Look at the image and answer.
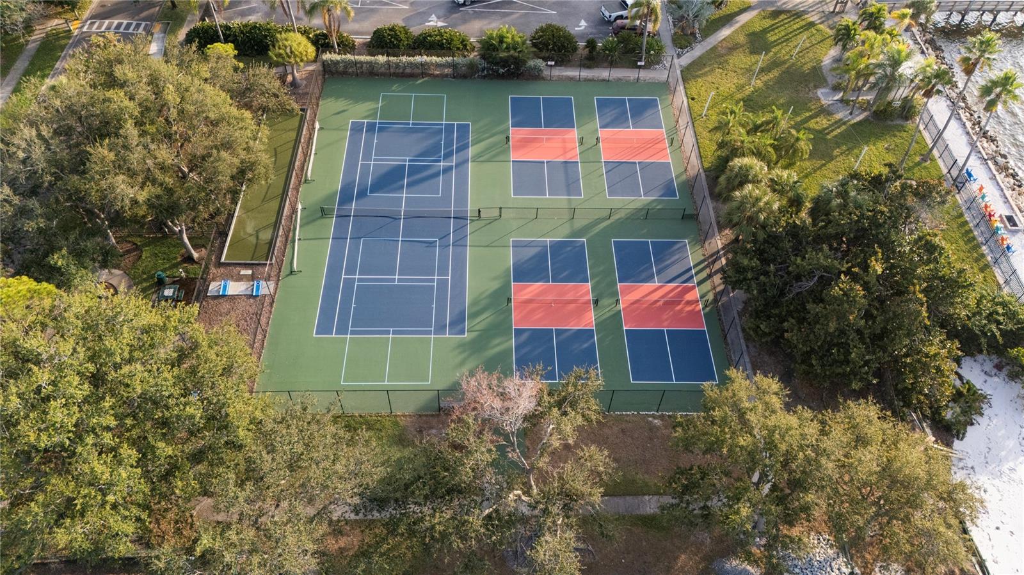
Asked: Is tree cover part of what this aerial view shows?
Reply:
Yes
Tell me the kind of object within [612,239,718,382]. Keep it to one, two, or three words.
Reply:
sports court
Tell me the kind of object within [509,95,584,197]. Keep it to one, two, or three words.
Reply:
sports court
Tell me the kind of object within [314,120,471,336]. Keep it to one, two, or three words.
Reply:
tennis court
